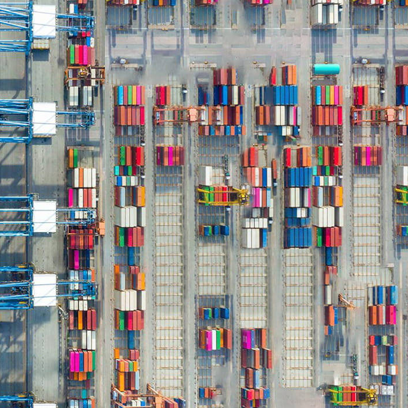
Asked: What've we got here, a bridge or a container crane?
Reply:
container crane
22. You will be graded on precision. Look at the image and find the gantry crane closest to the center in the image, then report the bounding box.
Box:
[196,188,249,206]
